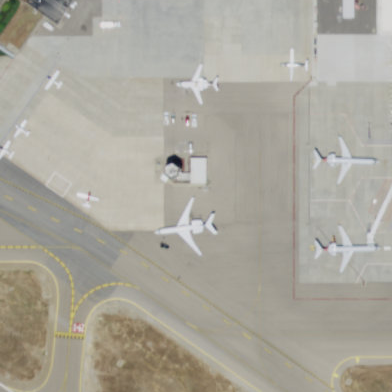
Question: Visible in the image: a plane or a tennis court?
plane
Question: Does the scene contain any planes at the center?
Yes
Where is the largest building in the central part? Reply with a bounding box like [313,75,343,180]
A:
[176,156,208,184]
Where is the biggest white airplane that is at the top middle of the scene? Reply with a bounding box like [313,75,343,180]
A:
[176,64,219,104]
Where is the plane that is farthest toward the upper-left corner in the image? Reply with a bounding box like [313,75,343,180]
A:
[46,70,62,90]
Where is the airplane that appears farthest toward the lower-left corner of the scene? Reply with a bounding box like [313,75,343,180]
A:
[77,190,100,204]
